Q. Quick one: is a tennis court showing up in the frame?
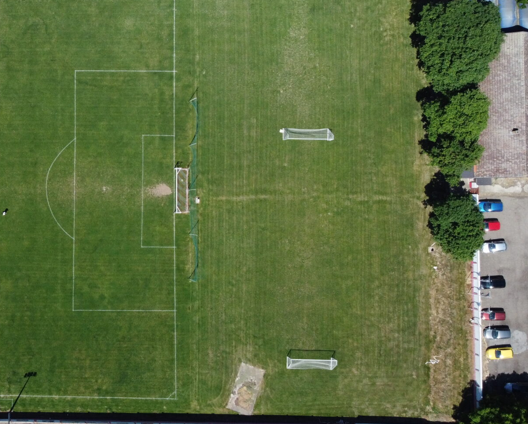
No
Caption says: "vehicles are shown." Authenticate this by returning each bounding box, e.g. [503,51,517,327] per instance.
[483,278,508,291]
[483,328,514,341]
[482,219,503,233]
[485,347,516,361]
[482,241,509,254]
[481,199,508,214]
[483,310,508,324]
